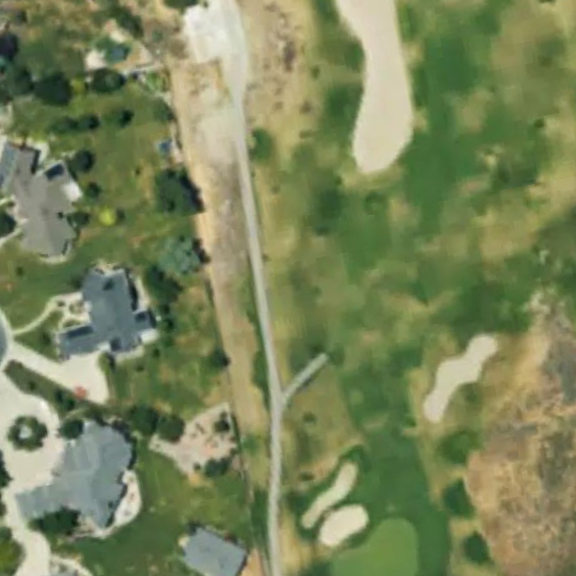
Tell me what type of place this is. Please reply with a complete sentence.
This image shows a golf course.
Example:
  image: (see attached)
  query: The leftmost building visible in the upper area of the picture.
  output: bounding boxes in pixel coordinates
[0,142,75,254]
